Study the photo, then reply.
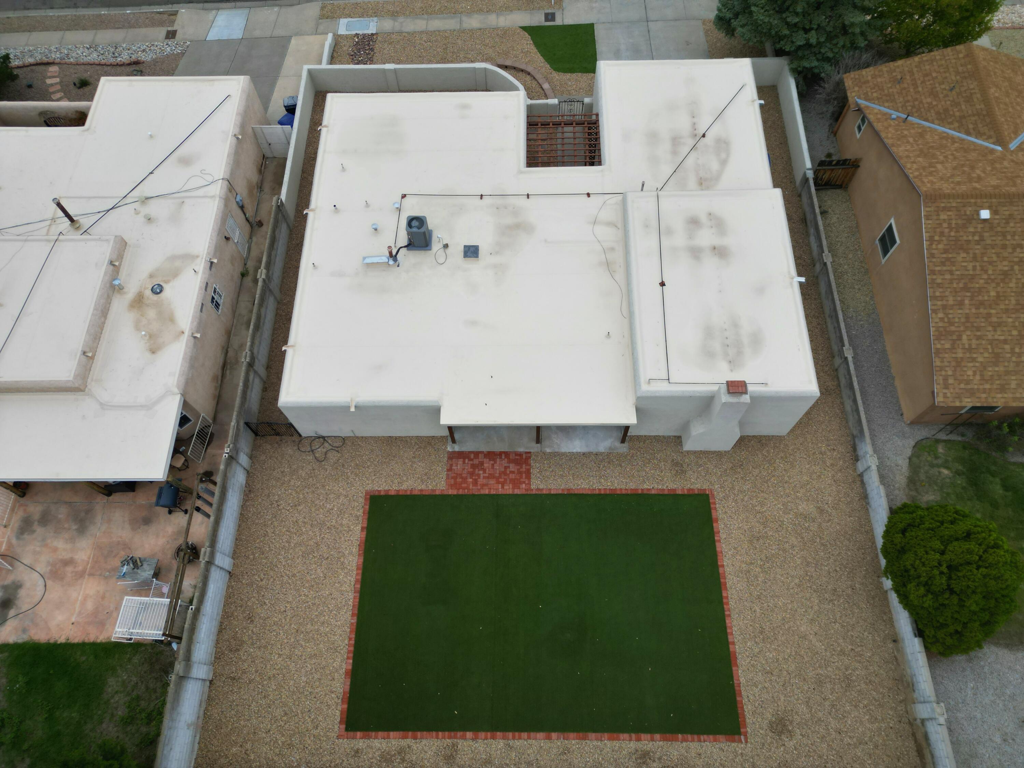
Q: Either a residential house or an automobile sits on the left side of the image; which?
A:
residential house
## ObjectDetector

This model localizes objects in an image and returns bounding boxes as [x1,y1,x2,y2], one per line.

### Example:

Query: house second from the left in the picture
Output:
[278,58,820,450]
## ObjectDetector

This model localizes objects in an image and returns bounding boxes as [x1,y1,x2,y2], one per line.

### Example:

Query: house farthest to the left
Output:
[0,78,271,499]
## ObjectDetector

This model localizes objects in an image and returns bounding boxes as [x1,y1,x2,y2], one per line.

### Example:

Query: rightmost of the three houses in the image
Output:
[832,42,1024,425]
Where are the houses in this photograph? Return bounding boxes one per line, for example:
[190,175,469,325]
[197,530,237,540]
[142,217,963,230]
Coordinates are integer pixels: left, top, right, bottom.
[0,78,271,499]
[832,42,1024,425]
[278,58,820,450]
